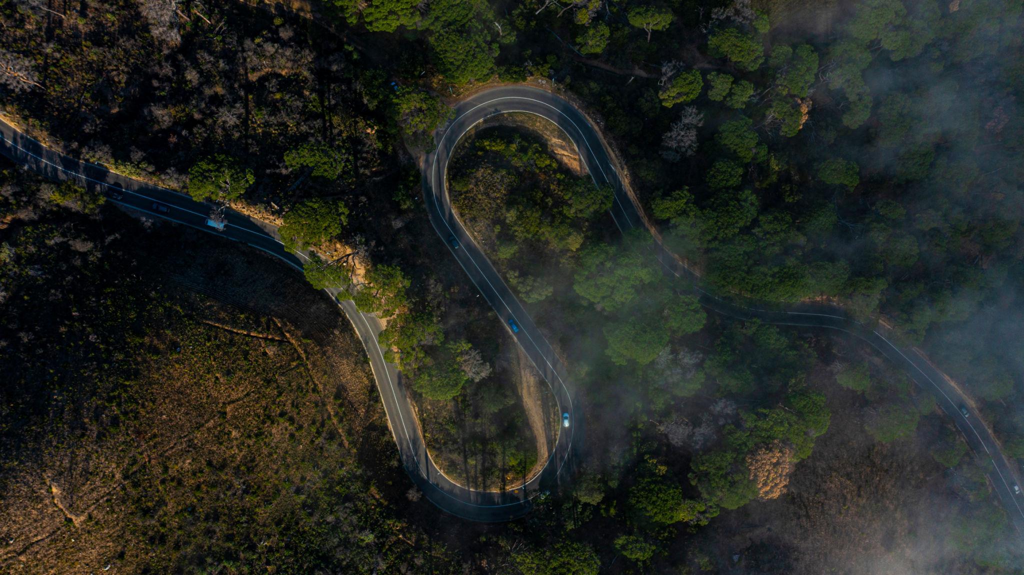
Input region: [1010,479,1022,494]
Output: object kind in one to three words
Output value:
vehicle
